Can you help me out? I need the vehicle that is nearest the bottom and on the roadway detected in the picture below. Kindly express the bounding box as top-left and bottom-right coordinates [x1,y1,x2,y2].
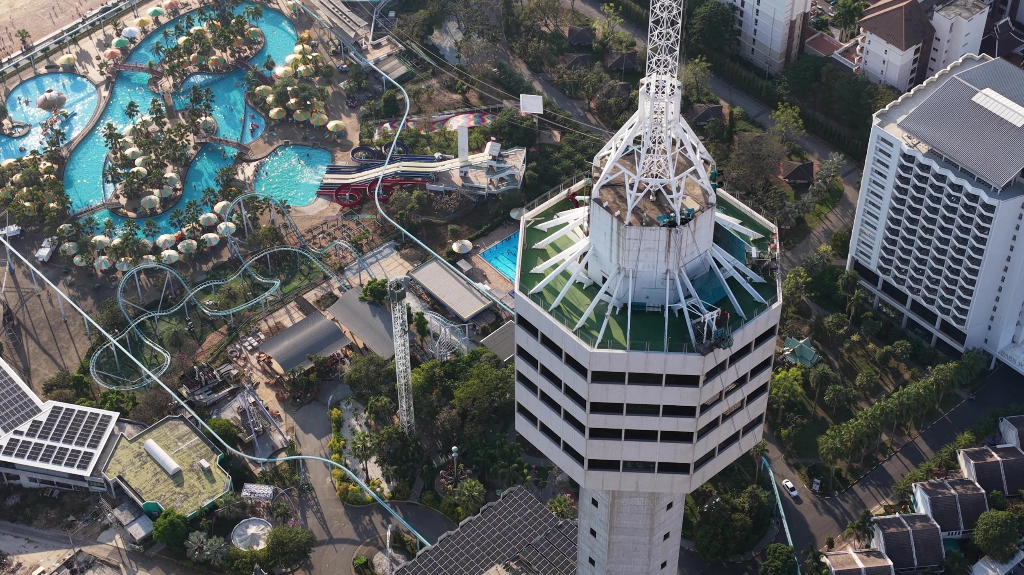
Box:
[782,478,799,499]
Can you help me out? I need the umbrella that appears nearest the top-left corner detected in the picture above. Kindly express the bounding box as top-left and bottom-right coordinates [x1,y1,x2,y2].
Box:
[59,54,78,67]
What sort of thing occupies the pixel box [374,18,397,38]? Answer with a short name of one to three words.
shed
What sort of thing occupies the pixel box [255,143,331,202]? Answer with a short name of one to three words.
swimming pool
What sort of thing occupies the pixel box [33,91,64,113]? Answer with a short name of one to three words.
fountain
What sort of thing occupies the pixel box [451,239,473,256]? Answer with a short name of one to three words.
umbrella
